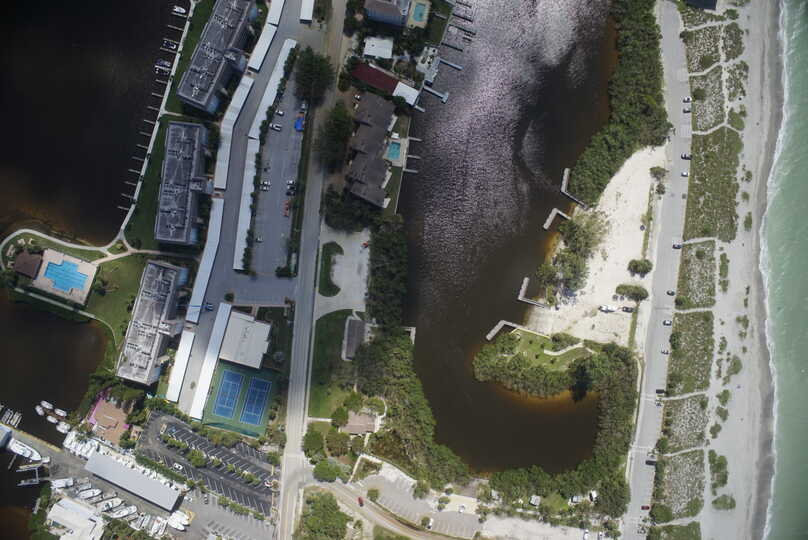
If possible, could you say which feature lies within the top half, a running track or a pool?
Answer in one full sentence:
The one visible within the top half is a pool.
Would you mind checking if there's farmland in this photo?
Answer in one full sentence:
No, the scene doesn't show any farmland.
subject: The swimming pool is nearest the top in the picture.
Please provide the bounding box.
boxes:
[407,0,431,28]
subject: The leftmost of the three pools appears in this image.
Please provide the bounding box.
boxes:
[32,249,98,305]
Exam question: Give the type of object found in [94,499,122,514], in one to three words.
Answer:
boat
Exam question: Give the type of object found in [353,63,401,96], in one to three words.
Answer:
house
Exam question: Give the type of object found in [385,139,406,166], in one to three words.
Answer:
swimming pool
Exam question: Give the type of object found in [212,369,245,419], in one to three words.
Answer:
tennis court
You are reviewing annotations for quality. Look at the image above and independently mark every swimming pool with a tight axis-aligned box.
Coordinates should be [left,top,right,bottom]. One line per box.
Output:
[32,249,98,305]
[385,139,406,166]
[407,0,431,28]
